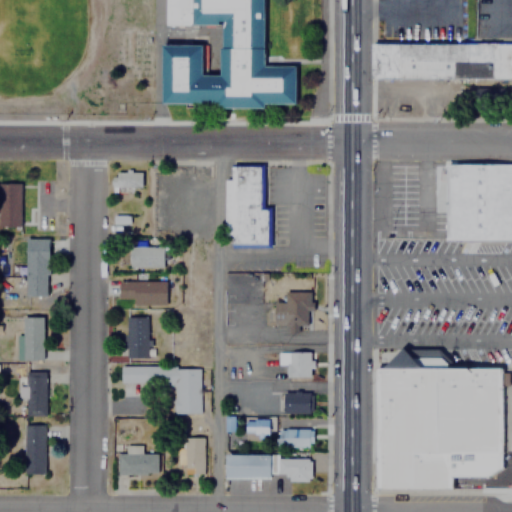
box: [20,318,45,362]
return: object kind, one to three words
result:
house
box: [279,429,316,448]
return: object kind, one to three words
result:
house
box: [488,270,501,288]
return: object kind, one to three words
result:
vehicle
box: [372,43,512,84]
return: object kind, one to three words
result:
building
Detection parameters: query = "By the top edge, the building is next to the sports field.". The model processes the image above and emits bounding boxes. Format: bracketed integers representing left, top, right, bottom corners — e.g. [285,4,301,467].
[162,0,297,107]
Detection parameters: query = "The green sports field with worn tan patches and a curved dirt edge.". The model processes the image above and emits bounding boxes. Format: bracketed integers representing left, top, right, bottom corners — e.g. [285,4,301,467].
[0,0,100,102]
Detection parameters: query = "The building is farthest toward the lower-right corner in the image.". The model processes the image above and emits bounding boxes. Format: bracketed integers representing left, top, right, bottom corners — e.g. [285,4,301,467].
[379,350,512,490]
